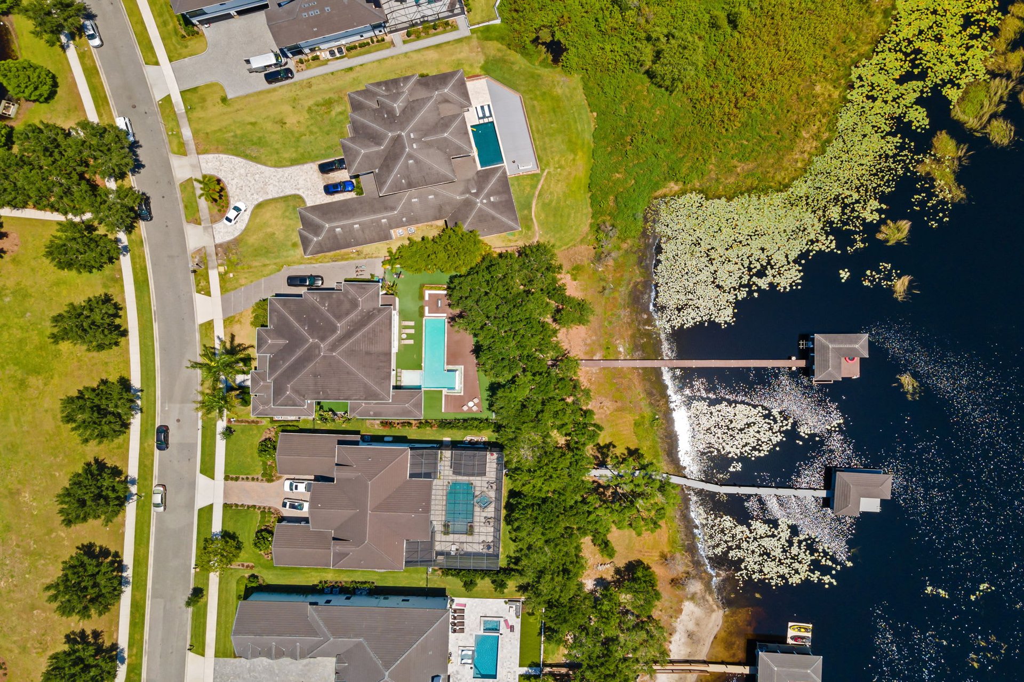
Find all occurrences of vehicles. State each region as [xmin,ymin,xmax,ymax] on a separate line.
[263,66,295,84]
[317,157,347,174]
[323,180,355,195]
[287,272,323,288]
[285,479,320,494]
[115,114,136,144]
[153,424,170,451]
[137,193,153,222]
[282,497,308,513]
[83,18,104,49]
[221,199,249,228]
[240,51,285,71]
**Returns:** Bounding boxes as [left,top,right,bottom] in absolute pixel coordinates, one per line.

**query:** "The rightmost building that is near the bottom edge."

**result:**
[745,640,824,682]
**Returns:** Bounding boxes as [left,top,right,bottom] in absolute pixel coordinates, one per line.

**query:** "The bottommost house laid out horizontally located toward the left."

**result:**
[232,591,455,682]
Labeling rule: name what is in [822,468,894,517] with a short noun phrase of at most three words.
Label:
building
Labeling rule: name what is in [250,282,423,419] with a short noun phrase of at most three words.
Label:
house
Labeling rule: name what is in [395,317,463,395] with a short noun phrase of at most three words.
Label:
swimming pool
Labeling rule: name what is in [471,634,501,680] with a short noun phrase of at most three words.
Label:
swimming pool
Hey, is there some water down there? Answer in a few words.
Yes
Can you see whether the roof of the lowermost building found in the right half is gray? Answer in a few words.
Yes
